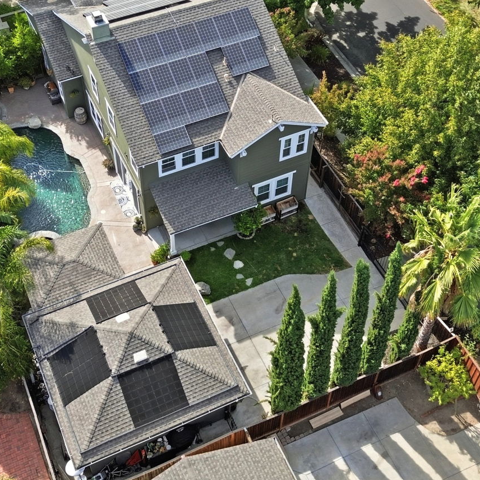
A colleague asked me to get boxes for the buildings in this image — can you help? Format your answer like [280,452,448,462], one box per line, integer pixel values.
[20,256,253,476]
[161,436,301,480]
[17,0,335,256]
